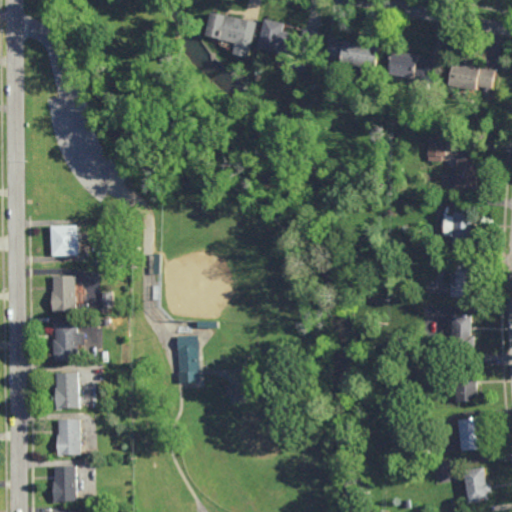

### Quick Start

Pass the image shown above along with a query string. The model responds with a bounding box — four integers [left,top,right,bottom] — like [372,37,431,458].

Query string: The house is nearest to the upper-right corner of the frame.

[448,66,500,89]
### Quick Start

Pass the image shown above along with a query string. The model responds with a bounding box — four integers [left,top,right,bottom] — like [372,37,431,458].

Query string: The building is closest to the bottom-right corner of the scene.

[464,467,494,500]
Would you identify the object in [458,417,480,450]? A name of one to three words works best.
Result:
house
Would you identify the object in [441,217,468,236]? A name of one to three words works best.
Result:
house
